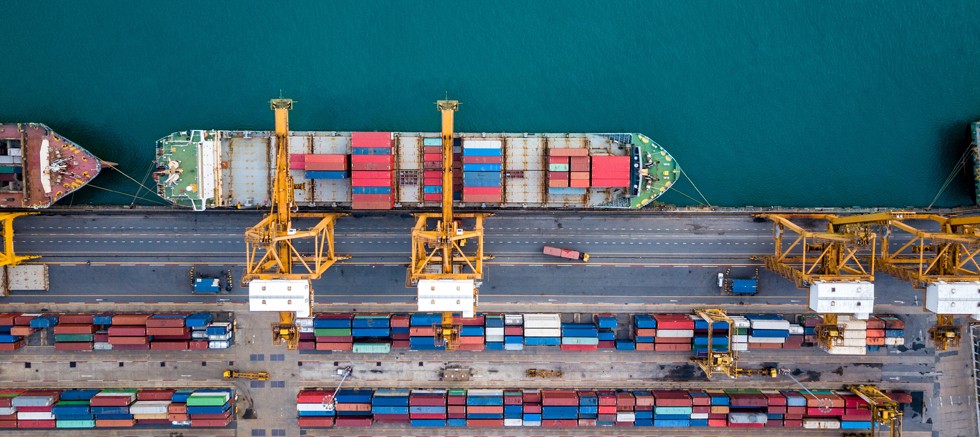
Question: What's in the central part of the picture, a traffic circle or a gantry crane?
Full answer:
What appears in the central part of the picture is a gantry crane.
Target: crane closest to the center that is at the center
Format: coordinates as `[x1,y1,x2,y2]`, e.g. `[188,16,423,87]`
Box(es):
[407,97,495,352]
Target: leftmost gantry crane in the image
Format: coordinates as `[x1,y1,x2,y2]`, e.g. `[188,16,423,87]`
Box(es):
[0,213,37,268]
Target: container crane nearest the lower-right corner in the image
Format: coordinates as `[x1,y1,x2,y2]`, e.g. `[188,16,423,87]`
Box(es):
[845,384,902,437]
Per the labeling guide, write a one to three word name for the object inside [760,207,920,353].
container crane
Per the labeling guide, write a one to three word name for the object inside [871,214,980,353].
container crane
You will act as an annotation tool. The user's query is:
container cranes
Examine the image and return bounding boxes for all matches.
[760,207,920,353]
[407,97,495,352]
[871,214,980,353]
[845,384,902,437]
[695,310,738,381]
[0,213,37,268]
[241,89,345,352]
